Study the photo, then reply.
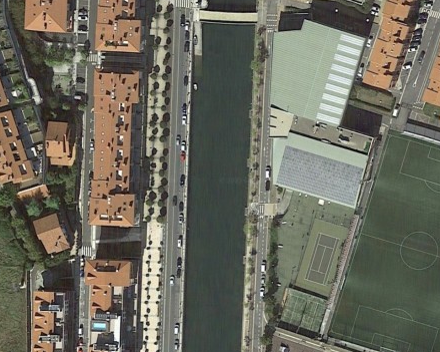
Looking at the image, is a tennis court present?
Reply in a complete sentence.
Yes, I can see a tennis court in this picture.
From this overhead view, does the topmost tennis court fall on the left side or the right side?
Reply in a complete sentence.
The topmost tennis court is on the right side of the image.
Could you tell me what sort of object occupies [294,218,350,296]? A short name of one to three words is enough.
tennis court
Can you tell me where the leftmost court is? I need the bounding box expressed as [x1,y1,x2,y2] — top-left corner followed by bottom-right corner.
[279,288,307,327]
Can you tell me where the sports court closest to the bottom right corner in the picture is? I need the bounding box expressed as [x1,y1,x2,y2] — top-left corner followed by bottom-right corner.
[299,294,326,334]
